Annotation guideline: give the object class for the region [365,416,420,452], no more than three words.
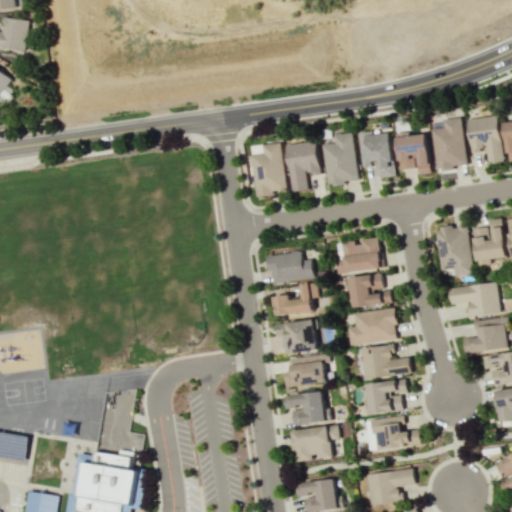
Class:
house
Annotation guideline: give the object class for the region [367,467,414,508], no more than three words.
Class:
house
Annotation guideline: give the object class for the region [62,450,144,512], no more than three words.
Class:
building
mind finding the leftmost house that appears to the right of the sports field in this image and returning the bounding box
[250,142,288,199]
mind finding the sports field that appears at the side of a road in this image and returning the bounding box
[0,151,227,378]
